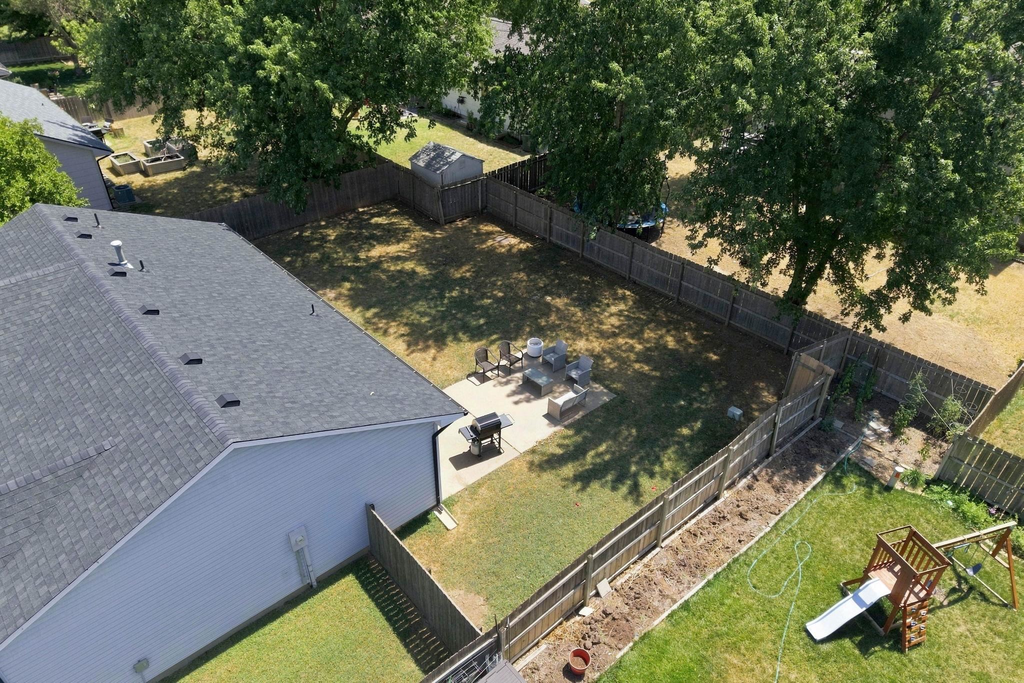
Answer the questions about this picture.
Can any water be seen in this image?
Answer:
No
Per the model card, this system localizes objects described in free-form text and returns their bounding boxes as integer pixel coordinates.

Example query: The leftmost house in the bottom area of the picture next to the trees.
[0,205,470,683]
